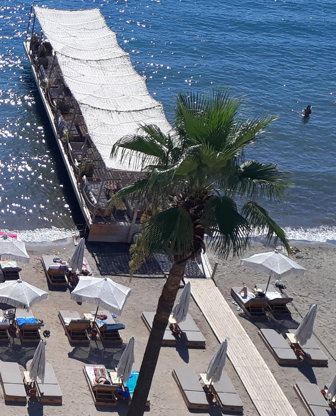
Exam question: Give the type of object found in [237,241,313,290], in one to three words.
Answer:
umbrella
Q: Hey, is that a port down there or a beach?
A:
beach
